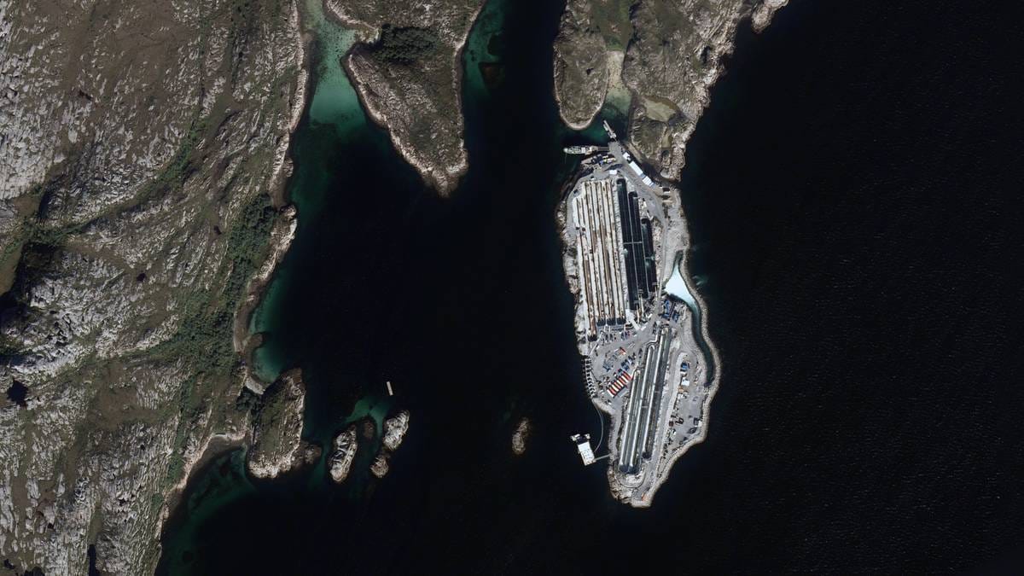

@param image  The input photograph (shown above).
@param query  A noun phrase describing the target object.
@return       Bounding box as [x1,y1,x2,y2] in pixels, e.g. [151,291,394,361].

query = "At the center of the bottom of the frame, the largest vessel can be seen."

[574,435,595,466]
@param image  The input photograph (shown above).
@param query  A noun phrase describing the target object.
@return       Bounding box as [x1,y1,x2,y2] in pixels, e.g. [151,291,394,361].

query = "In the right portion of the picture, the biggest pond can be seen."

[663,248,716,383]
